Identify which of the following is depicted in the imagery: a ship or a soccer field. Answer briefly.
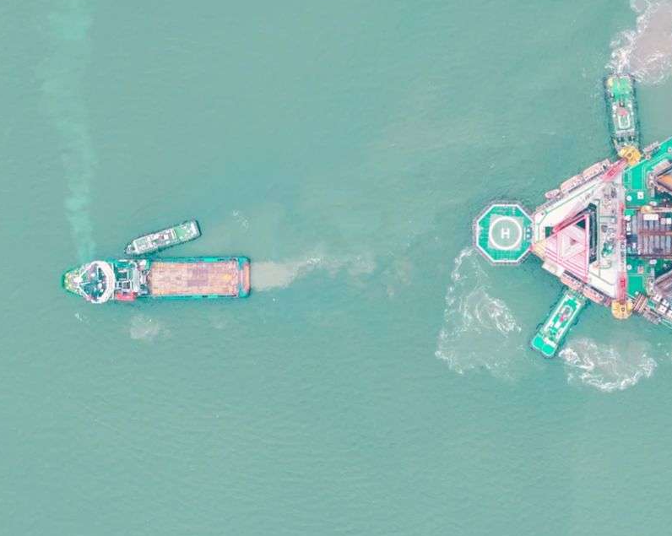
ship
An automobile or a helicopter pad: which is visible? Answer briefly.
helicopter pad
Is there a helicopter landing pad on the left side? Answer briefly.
No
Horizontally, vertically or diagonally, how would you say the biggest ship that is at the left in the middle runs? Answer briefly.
horizontally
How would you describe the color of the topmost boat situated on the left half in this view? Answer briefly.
white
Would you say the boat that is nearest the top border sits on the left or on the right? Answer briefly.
right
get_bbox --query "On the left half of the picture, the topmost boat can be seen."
[123,217,206,257]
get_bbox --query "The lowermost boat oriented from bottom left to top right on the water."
[531,285,590,358]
